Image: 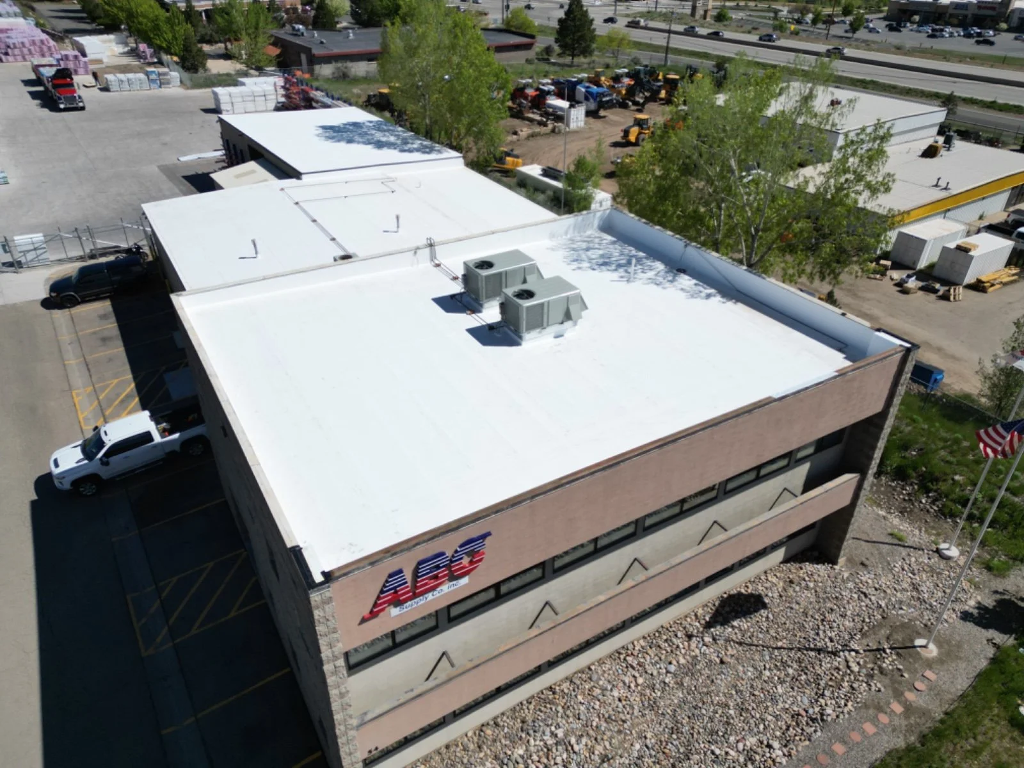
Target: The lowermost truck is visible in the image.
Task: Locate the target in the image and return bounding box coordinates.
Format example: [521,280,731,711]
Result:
[48,404,210,490]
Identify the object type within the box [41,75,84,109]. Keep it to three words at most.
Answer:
truck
